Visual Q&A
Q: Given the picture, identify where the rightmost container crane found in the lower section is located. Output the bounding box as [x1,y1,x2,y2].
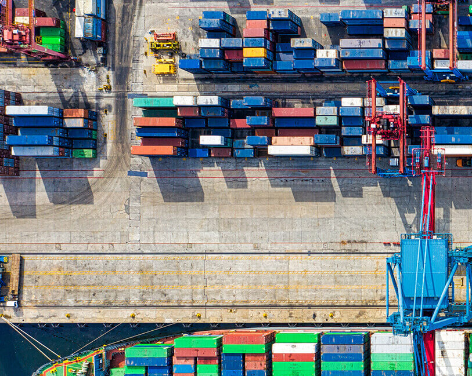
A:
[384,116,472,376]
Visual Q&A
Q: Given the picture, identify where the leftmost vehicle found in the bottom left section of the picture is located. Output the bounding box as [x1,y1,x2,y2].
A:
[7,253,22,308]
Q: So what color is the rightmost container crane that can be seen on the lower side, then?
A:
blue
